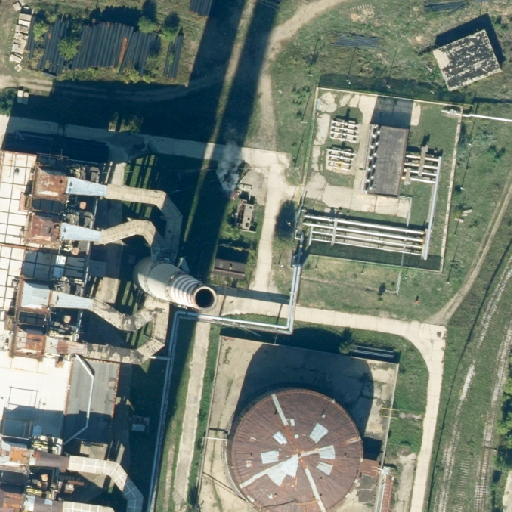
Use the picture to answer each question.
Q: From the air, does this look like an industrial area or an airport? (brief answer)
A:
industrial area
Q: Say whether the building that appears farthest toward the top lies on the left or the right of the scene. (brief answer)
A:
right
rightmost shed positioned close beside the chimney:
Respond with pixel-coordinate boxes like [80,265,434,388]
[213,258,247,279]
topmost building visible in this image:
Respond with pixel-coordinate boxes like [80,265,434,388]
[433,29,502,90]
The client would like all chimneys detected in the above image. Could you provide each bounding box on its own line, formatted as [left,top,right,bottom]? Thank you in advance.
[132,256,217,310]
